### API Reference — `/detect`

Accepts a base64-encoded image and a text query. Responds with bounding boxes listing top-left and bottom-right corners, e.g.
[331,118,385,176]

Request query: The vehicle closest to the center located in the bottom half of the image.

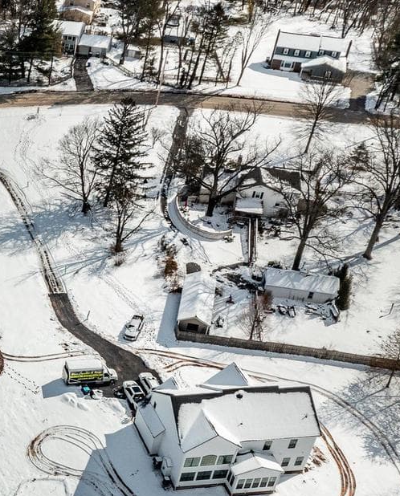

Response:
[124,311,146,337]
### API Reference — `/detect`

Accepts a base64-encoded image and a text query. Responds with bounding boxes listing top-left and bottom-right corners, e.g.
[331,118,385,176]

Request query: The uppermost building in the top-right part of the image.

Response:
[261,26,360,78]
